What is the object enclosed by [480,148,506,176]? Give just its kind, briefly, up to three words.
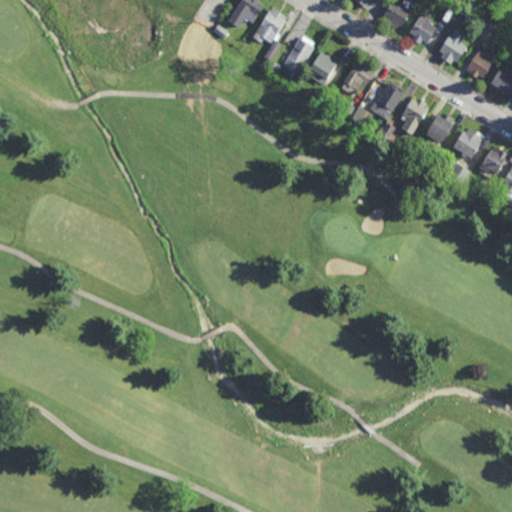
house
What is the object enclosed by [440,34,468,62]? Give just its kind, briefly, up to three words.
house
